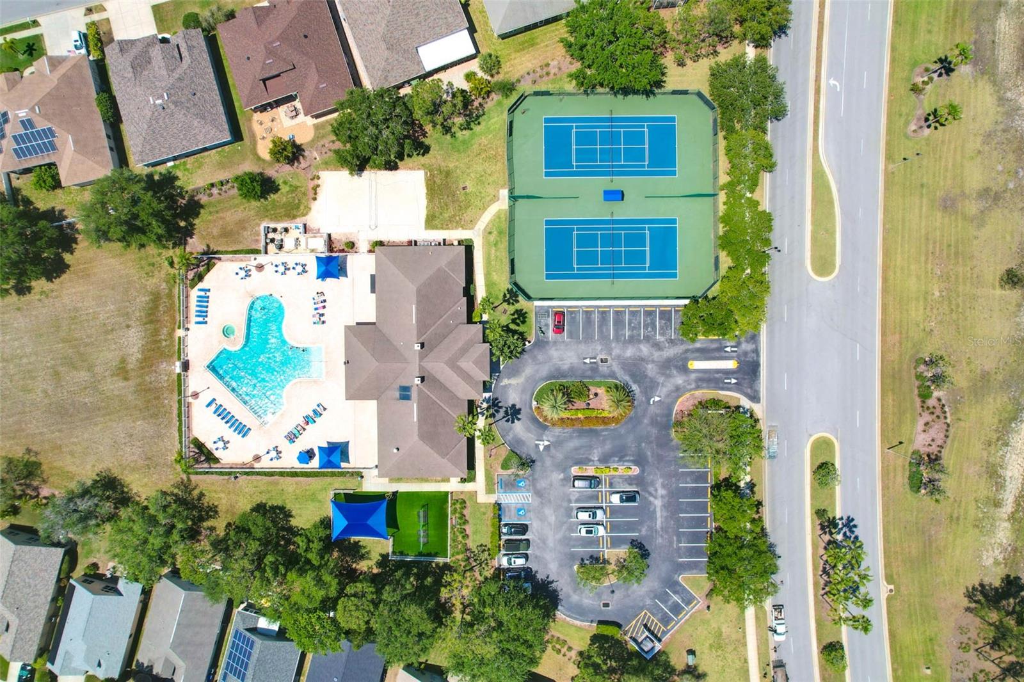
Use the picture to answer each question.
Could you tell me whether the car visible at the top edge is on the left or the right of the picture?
left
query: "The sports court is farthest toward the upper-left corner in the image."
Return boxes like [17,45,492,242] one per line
[307,170,426,237]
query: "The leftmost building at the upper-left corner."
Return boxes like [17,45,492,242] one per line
[0,56,120,182]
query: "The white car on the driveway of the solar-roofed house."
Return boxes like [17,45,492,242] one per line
[68,29,89,58]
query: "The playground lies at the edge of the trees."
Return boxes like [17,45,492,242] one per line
[333,491,450,561]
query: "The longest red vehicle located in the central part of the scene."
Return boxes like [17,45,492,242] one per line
[553,310,565,335]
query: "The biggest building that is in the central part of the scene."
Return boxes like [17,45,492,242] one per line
[344,246,490,478]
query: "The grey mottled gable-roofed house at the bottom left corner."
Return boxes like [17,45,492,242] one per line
[0,526,73,682]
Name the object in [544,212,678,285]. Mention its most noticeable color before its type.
blue tennis court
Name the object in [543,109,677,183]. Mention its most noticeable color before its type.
blue tennis court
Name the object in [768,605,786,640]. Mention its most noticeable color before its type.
white vehicle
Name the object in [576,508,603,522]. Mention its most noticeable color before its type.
white car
